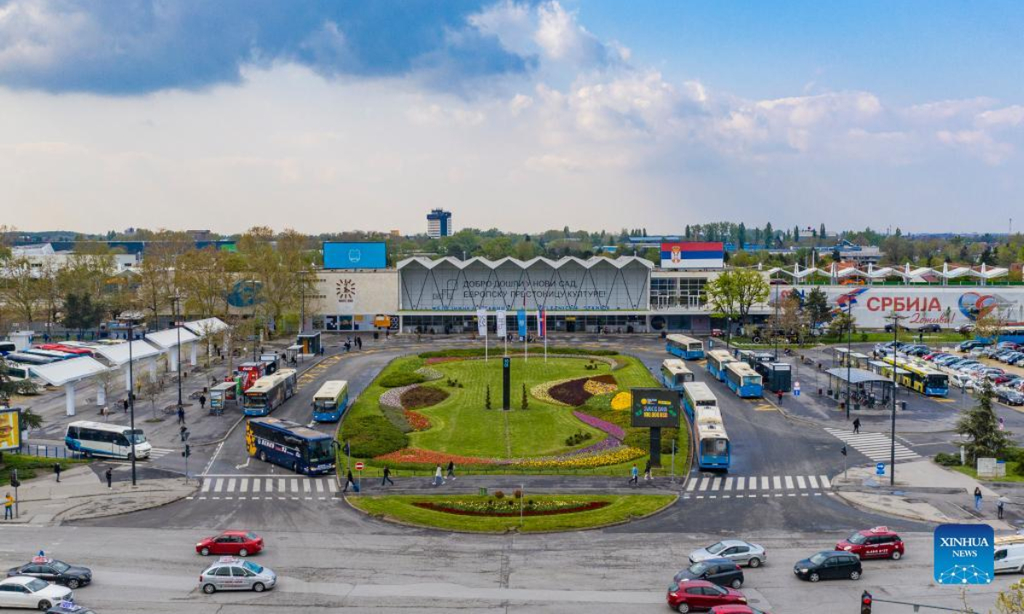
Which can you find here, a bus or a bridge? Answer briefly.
bus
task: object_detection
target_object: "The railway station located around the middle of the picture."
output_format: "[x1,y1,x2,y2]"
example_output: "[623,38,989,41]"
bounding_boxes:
[165,254,777,334]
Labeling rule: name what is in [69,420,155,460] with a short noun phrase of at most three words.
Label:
vehicle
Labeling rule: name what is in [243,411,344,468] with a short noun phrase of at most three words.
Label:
bus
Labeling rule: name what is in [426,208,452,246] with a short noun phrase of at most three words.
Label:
building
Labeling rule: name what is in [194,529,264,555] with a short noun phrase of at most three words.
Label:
car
